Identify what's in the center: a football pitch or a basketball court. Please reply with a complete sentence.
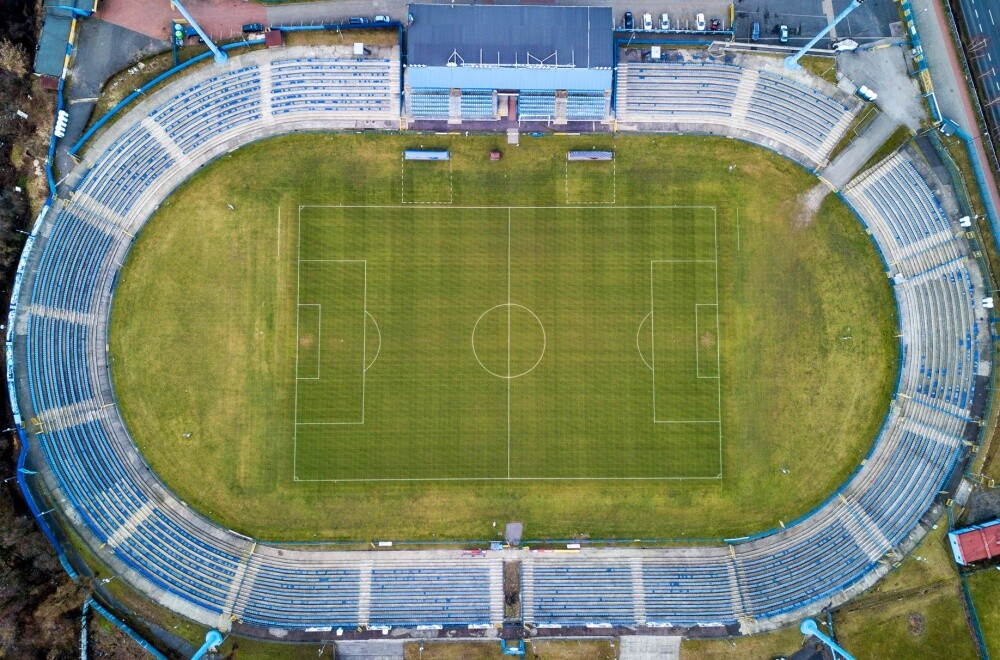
Looking in the center, you will find a football pitch.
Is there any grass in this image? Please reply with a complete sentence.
Yes, there's grass in this view.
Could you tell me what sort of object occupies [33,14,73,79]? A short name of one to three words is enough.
building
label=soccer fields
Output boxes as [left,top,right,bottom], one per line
[278,153,739,488]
